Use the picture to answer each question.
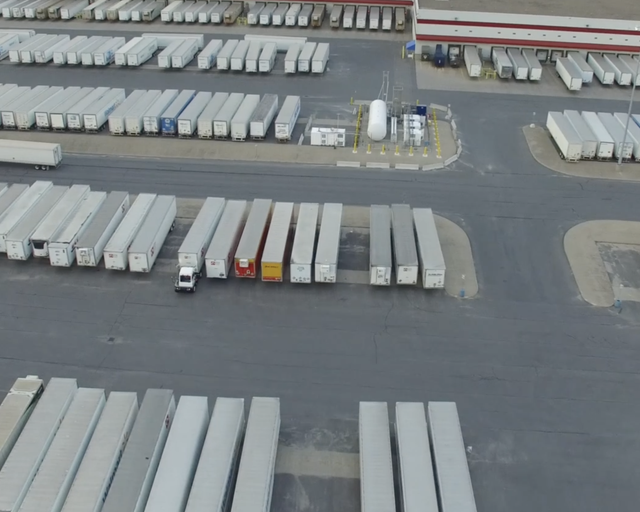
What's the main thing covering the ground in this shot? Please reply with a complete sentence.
For the most part, this view shows paved ground.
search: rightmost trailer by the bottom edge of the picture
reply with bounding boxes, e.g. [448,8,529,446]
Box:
[426,393,476,512]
